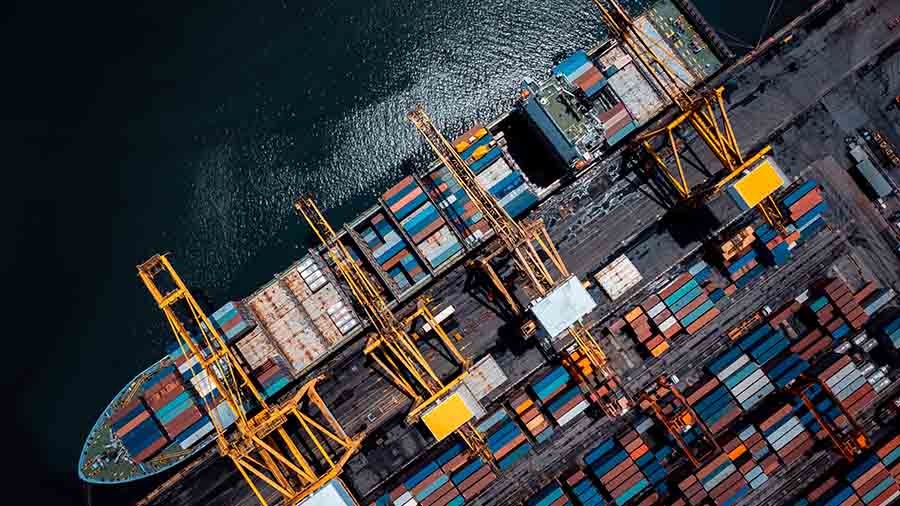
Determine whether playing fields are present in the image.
No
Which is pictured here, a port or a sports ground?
port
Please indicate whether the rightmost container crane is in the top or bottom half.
bottom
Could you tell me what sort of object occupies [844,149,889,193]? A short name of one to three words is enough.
truck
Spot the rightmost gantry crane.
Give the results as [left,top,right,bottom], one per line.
[785,372,875,461]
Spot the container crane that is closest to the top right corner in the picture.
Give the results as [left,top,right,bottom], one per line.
[593,0,788,239]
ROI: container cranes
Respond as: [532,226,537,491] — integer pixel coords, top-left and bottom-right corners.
[555,337,634,421]
[295,194,498,473]
[407,99,615,377]
[136,247,376,506]
[633,374,725,471]
[593,0,788,239]
[785,372,875,461]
